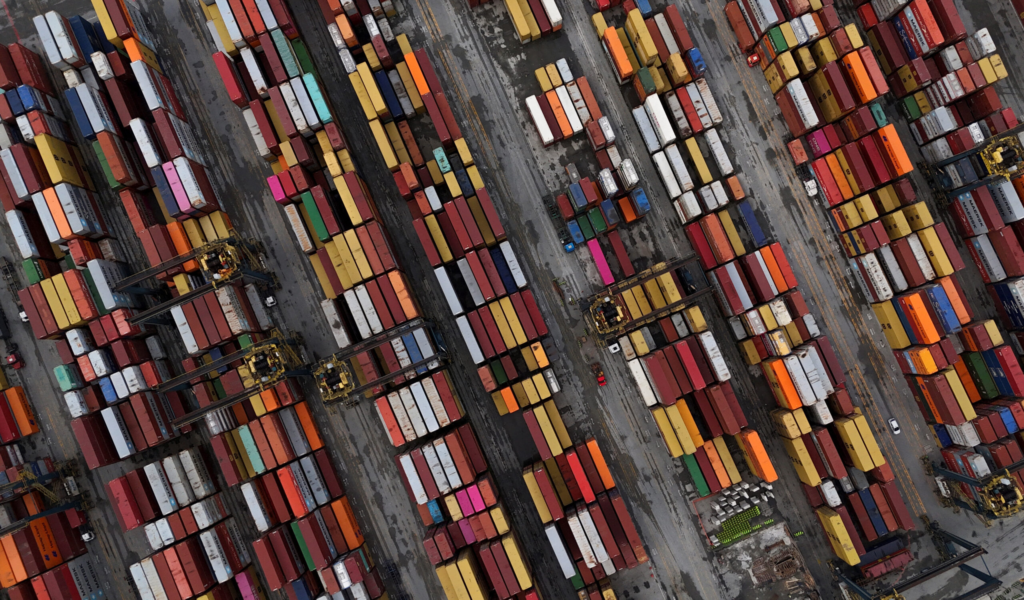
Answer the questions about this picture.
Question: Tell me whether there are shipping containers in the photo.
Yes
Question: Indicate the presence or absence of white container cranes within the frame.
No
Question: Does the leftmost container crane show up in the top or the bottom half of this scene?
bottom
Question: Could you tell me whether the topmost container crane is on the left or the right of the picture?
right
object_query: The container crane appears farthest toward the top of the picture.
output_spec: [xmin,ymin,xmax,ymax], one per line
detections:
[918,121,1024,208]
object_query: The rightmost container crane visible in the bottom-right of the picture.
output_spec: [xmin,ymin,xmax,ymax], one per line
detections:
[920,457,1024,526]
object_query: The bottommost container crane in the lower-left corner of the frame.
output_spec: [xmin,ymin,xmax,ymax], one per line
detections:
[0,459,96,541]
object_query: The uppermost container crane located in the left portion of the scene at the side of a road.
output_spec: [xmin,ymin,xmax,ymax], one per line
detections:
[113,236,279,333]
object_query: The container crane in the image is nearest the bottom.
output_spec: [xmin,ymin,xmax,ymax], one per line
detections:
[823,513,1003,600]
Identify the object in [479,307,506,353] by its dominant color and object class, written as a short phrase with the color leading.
red shipping container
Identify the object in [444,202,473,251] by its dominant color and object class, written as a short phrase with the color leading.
red shipping container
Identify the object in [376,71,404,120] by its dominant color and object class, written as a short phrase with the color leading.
black shipping container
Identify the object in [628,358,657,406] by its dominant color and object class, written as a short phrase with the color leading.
white shipping container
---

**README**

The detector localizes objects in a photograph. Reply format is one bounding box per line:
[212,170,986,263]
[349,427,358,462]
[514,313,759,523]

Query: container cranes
[113,236,279,333]
[155,334,317,431]
[573,250,714,345]
[0,459,96,541]
[823,513,1003,600]
[918,121,1024,208]
[920,457,1024,526]
[309,314,451,408]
